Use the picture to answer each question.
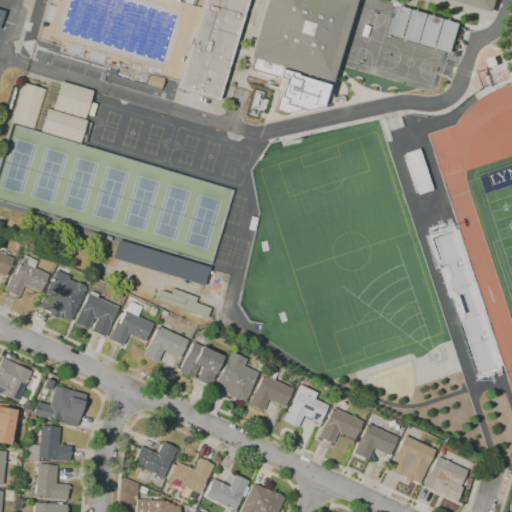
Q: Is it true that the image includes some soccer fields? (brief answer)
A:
Yes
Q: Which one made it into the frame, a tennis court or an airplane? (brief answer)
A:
tennis court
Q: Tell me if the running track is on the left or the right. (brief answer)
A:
right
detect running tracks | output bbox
[428,84,512,384]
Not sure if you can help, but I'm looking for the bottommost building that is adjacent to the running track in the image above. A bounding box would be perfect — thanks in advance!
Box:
[404,148,436,194]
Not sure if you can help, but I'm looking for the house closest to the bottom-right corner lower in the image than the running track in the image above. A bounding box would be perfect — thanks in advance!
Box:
[424,458,470,502]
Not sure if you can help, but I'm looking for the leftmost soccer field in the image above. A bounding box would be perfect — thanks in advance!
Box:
[242,120,450,382]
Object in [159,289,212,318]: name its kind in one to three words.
building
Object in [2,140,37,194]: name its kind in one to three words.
tennis court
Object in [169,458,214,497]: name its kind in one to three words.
house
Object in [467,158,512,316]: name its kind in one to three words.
sports field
